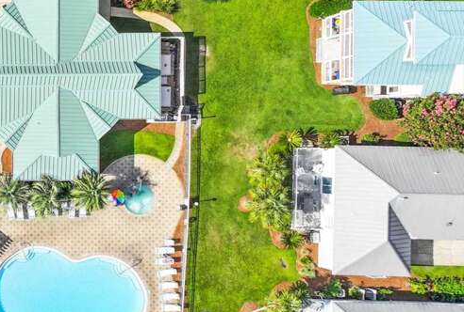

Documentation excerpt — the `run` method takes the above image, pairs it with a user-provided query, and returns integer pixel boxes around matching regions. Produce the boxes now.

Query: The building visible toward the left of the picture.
[0,0,161,182]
